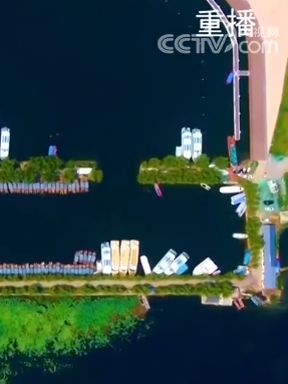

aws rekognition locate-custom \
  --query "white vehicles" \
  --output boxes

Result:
[263,206,274,212]
[268,179,279,195]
